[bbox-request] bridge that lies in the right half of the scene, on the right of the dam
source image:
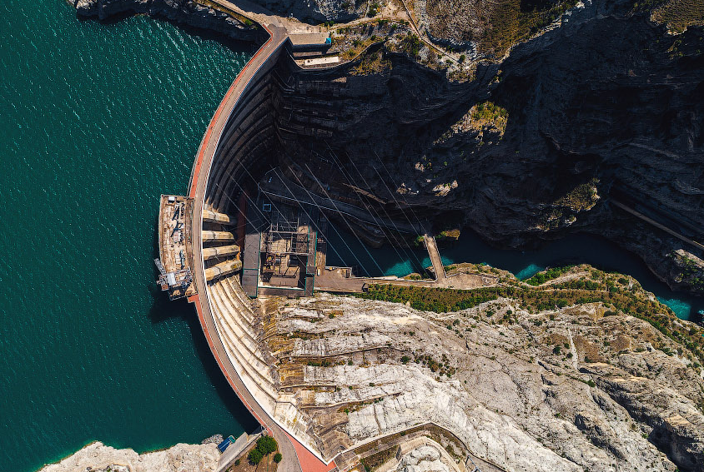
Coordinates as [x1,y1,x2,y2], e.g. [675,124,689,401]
[425,232,447,288]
